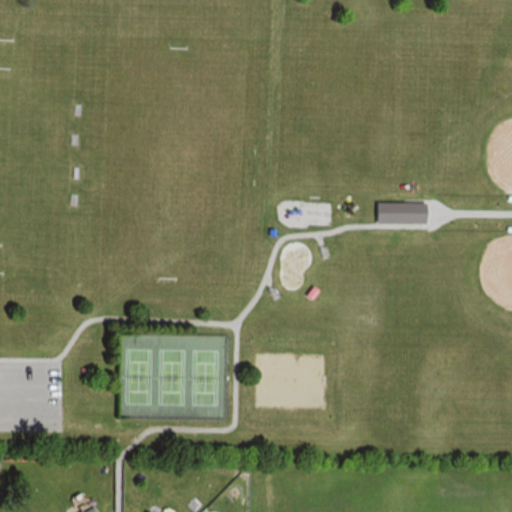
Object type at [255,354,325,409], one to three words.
sports court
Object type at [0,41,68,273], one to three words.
soccer field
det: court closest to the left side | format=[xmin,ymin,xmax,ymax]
[126,349,154,406]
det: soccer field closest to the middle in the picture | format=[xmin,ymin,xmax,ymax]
[106,50,244,279]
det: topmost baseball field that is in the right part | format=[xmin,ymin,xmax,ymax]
[487,118,512,193]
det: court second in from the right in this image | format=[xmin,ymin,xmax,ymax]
[191,350,220,406]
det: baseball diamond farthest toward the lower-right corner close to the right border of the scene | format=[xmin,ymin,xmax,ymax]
[480,234,512,314]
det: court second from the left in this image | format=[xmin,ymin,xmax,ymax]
[157,350,187,406]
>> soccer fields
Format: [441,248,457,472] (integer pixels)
[0,41,68,273]
[106,50,244,279]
